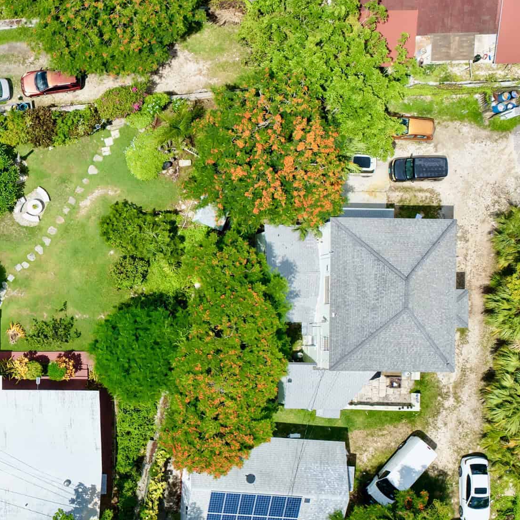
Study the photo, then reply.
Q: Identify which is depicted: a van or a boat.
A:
van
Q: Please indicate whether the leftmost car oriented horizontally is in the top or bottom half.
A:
top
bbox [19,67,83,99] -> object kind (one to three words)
car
